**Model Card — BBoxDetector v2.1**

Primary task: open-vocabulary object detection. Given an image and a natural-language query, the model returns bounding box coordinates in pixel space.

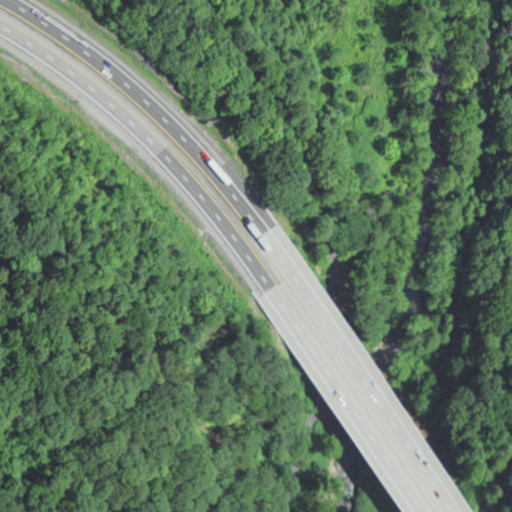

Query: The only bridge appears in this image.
[250,208,474,512]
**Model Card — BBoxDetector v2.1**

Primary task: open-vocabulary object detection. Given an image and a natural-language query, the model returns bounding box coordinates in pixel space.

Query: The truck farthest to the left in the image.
[35,10,78,41]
